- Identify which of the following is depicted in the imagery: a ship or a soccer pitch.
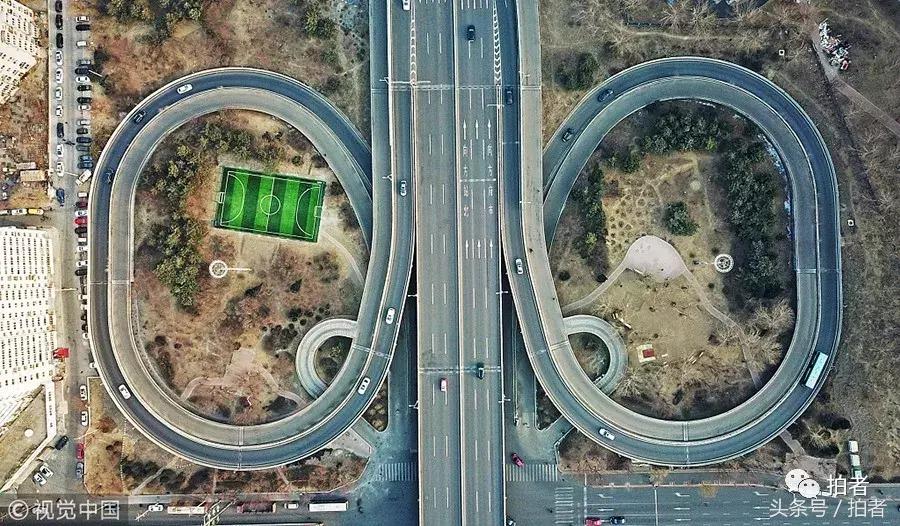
soccer pitch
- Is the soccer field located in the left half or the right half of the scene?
left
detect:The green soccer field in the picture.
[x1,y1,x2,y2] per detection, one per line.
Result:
[214,166,326,242]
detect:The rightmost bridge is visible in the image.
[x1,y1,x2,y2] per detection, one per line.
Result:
[516,0,819,443]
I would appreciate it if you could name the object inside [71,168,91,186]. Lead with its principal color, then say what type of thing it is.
white vehicle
